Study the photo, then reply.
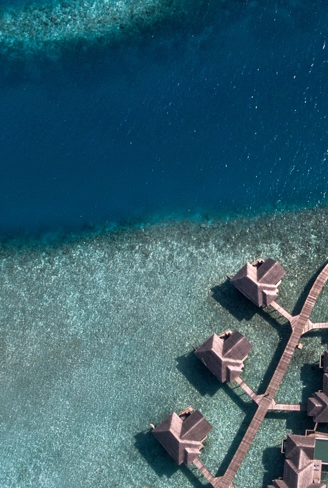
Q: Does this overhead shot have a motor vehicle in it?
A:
No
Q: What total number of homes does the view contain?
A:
3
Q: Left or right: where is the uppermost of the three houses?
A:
right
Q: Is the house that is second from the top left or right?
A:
right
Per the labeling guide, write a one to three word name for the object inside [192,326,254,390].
house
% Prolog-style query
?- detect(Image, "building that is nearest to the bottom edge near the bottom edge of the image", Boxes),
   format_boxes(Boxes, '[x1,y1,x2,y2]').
[152,404,214,472]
